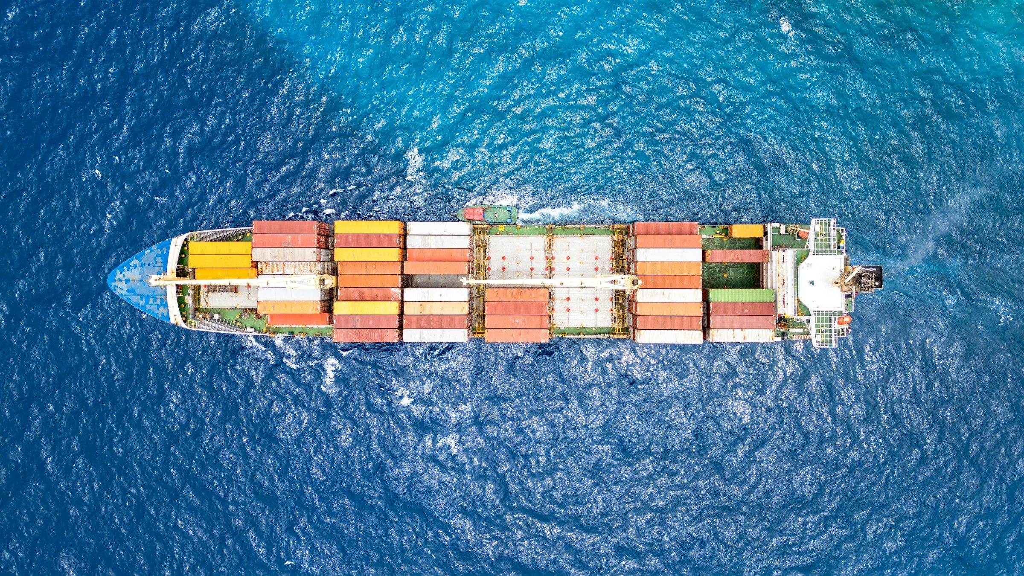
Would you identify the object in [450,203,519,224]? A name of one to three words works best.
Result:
boat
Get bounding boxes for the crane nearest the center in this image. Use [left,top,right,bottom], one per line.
[460,273,638,294]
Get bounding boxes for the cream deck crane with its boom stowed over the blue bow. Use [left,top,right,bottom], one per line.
[144,273,339,290]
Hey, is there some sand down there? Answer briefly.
No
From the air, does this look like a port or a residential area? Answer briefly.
port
